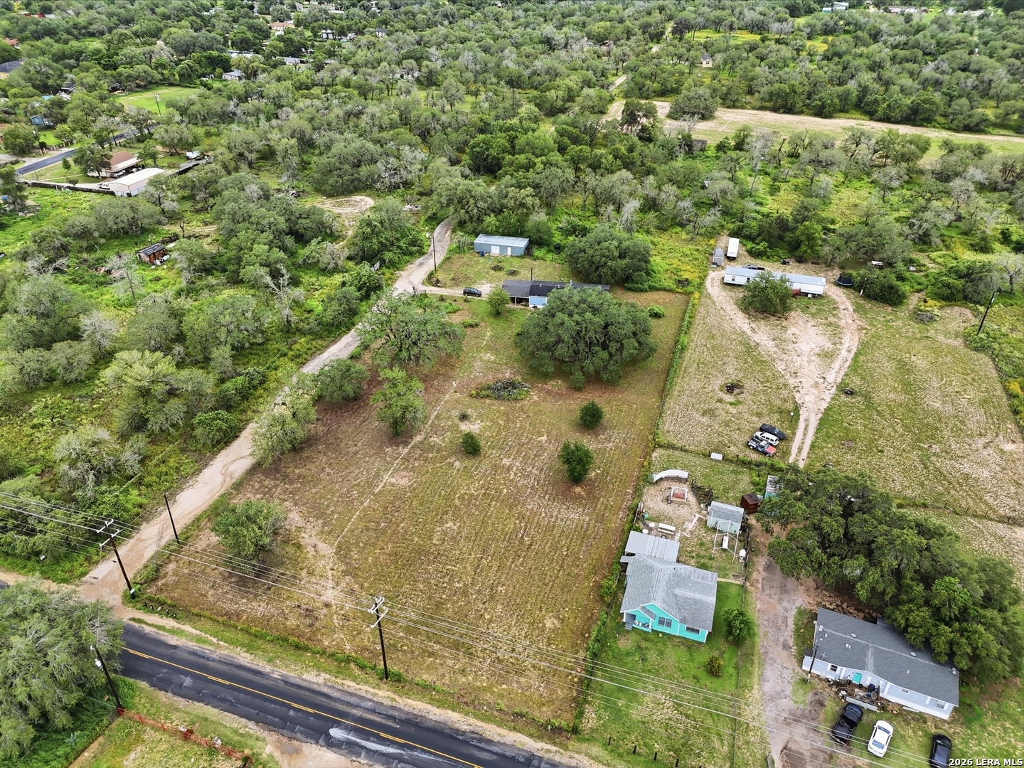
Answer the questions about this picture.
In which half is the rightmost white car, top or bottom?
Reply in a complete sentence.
It is in the bottom half that the rightmost white car appears.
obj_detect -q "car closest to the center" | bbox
[461,286,483,298]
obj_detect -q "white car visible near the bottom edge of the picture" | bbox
[867,718,893,761]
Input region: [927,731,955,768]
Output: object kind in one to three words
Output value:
car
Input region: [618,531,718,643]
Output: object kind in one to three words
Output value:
house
